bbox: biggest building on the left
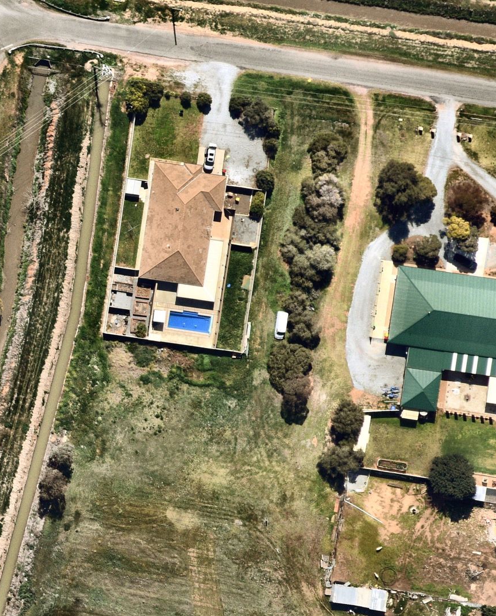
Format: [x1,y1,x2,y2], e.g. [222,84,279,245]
[139,162,227,302]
